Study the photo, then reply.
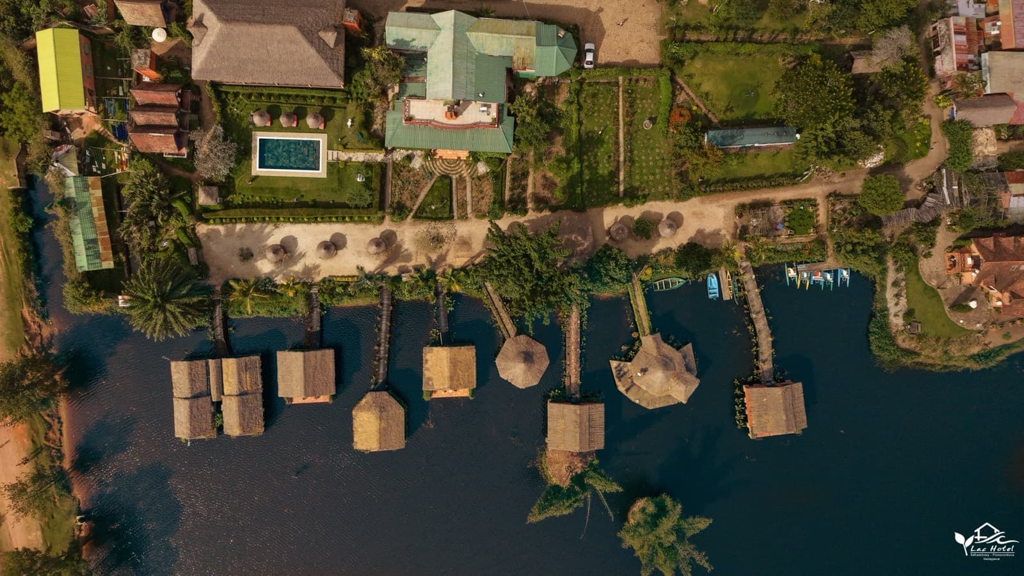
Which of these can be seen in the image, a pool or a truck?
pool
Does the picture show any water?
Yes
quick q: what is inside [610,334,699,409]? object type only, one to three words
building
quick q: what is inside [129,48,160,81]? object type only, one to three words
shed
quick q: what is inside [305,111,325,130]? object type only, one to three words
umbrella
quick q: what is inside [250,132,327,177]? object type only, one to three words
swimming pool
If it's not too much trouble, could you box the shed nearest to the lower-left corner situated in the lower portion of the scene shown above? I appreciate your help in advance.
[170,355,270,439]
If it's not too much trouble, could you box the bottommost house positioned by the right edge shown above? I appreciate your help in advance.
[944,232,1024,317]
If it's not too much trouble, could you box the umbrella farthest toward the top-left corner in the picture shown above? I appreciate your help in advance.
[252,109,271,128]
